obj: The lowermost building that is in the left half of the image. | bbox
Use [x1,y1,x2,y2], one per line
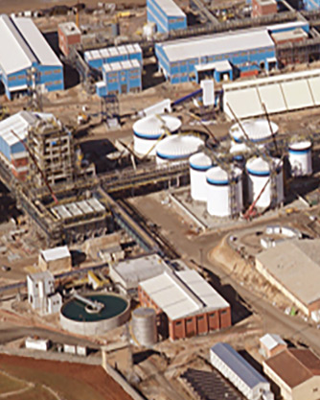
[98,335,134,366]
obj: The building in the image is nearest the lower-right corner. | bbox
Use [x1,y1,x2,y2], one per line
[267,350,320,400]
